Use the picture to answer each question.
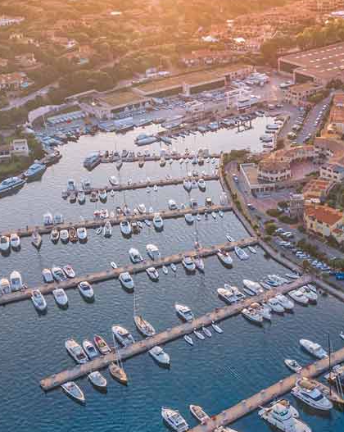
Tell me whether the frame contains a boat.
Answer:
Yes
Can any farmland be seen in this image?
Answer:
No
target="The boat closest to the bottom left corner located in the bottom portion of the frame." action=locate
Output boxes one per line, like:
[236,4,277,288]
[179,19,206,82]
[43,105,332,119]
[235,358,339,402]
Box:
[60,378,84,404]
